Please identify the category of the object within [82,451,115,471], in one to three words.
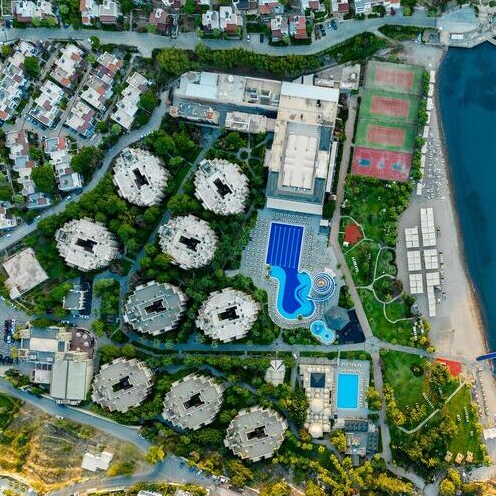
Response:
house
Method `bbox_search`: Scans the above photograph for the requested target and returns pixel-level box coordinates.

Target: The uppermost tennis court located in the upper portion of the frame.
[364,60,425,95]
